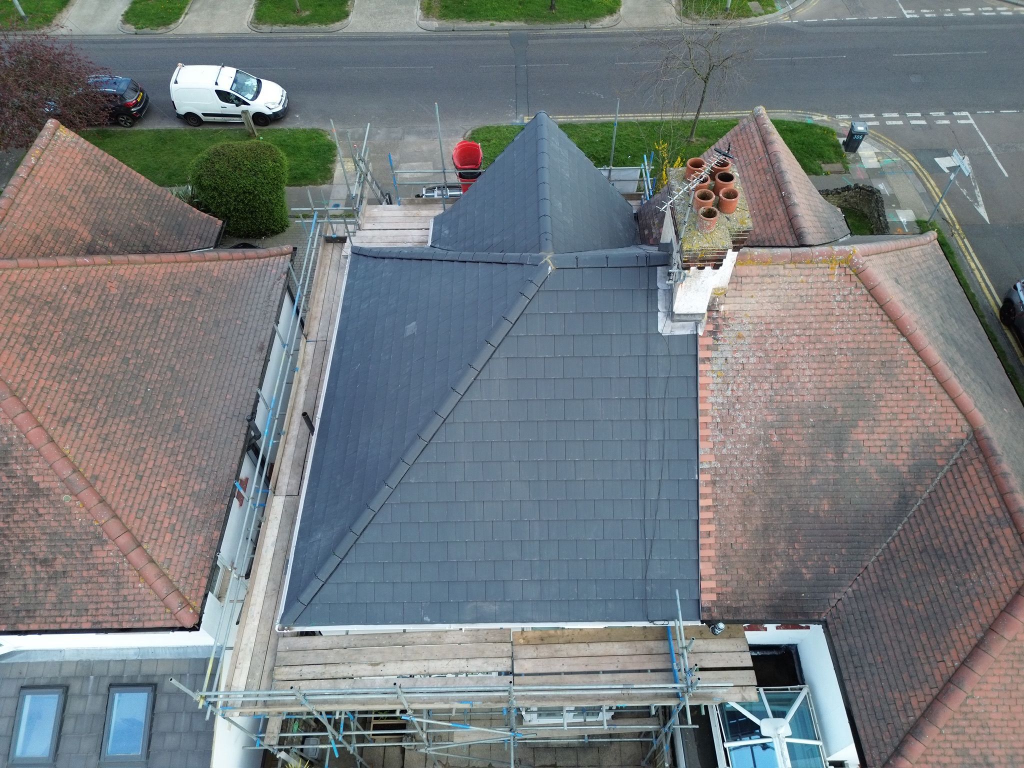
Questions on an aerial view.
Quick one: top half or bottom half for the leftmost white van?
top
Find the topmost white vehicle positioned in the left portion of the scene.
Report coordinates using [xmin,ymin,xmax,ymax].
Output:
[165,60,286,126]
